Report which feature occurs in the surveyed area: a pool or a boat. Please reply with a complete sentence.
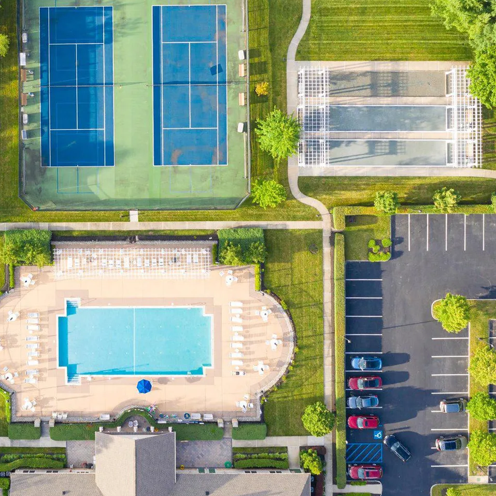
It is a pool that can be seen here.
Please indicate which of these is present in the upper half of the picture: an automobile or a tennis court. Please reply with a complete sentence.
You can see a tennis court in the upper half of the picture.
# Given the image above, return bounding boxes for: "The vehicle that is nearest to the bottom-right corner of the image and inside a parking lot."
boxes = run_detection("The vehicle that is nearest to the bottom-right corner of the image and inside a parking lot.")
[434,436,466,451]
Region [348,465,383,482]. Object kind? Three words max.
car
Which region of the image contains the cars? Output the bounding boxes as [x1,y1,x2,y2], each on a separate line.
[351,356,382,371]
[434,436,466,451]
[348,376,381,392]
[347,395,379,410]
[383,432,412,465]
[348,465,383,482]
[437,399,467,414]
[347,414,380,430]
